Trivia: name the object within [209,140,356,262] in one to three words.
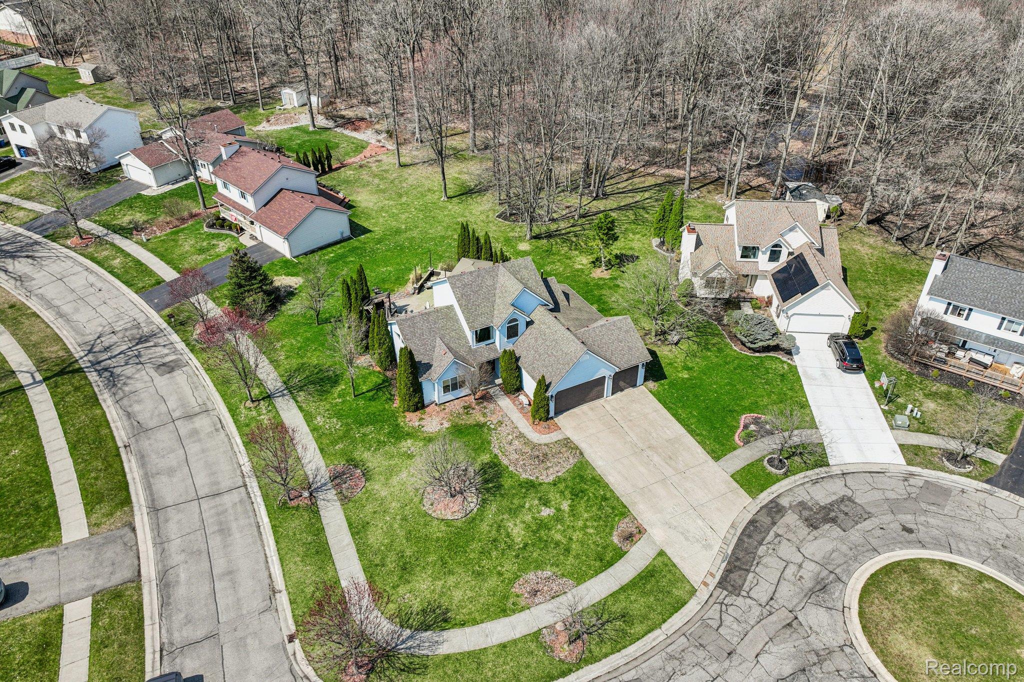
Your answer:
house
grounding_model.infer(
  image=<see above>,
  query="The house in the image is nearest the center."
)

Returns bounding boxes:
[386,255,654,417]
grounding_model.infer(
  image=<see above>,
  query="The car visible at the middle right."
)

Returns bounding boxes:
[828,336,867,371]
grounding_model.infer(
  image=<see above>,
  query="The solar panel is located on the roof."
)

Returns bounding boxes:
[770,253,818,304]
